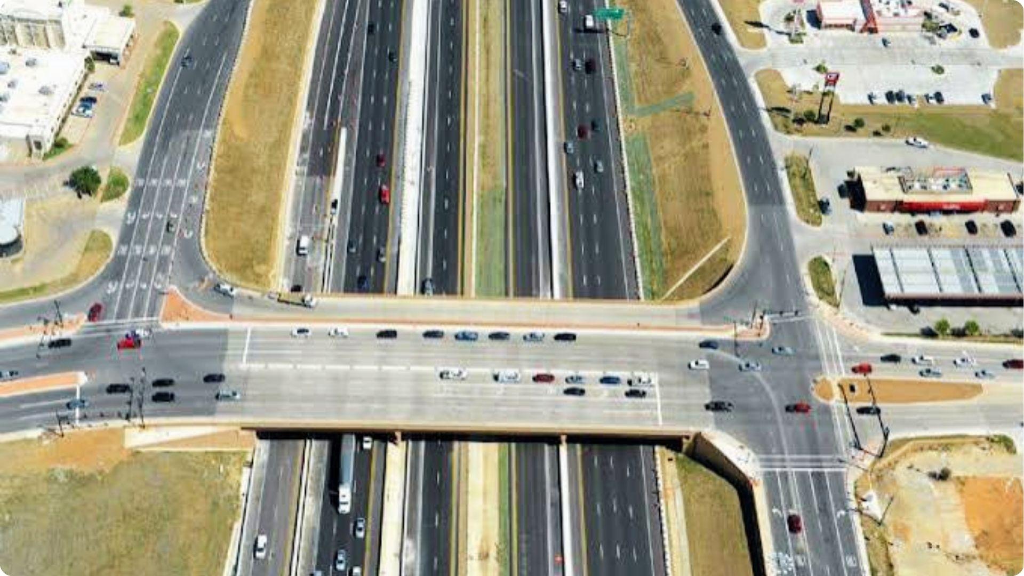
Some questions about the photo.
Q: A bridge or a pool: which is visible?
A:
bridge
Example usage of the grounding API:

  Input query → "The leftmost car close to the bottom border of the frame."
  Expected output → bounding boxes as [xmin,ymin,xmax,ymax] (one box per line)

[254,536,266,558]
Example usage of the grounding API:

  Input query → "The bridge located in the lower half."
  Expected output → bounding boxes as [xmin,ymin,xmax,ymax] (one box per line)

[142,289,714,455]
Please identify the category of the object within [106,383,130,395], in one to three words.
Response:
vehicle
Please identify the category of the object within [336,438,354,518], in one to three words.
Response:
vehicle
